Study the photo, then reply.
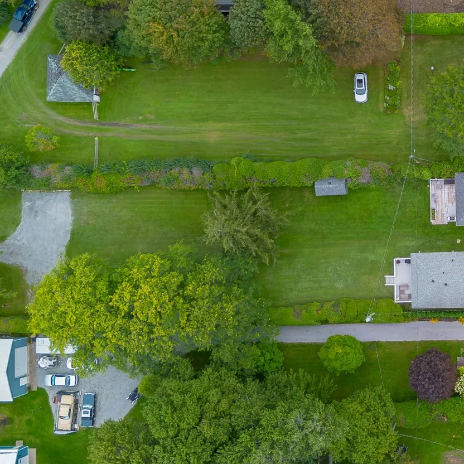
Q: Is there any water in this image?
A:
No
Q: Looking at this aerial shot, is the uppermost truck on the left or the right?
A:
left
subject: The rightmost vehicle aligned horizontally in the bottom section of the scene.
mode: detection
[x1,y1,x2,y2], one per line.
[64,357,98,373]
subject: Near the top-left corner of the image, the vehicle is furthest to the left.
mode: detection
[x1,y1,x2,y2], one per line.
[5,0,37,35]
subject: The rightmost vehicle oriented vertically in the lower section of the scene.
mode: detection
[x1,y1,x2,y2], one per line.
[77,392,96,428]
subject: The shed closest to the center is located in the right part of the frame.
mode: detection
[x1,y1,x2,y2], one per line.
[313,180,350,196]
